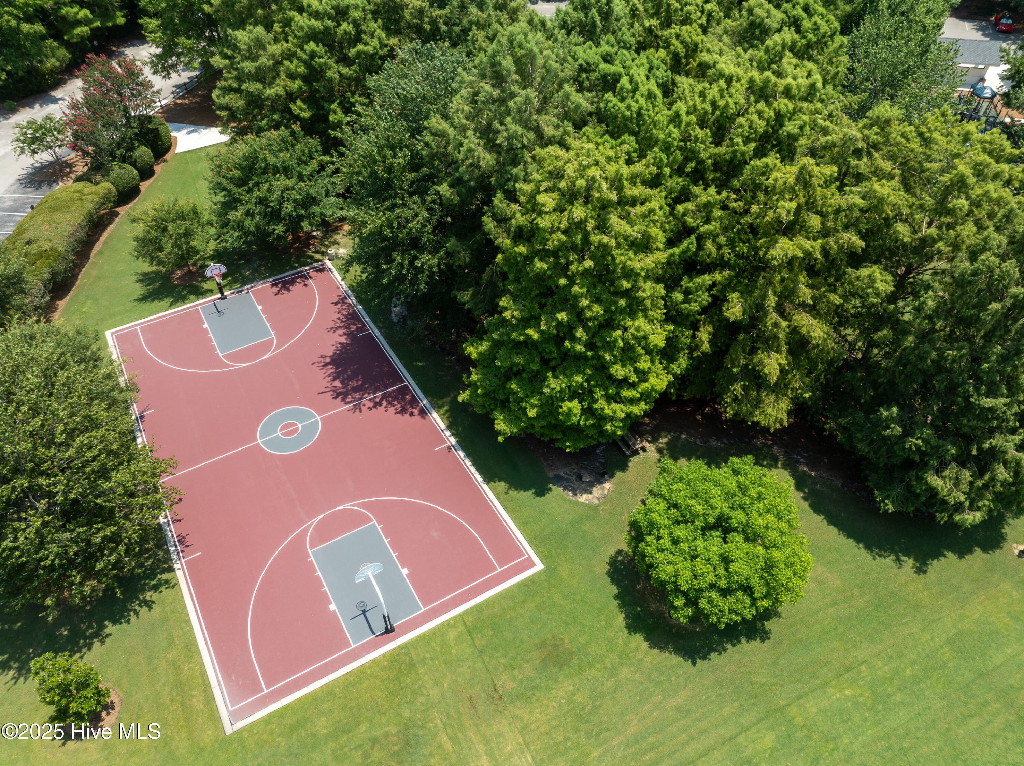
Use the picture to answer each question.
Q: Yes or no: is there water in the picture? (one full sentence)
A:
No, water can't be seen anywhere here.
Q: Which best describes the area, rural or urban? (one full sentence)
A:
It looks rural.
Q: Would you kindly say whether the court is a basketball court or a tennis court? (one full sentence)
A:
Looking closely, the court is a basketball court.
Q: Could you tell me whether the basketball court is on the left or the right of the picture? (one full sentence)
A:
The basketball court is on the left side of the image.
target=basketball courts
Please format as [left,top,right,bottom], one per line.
[104,259,543,735]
